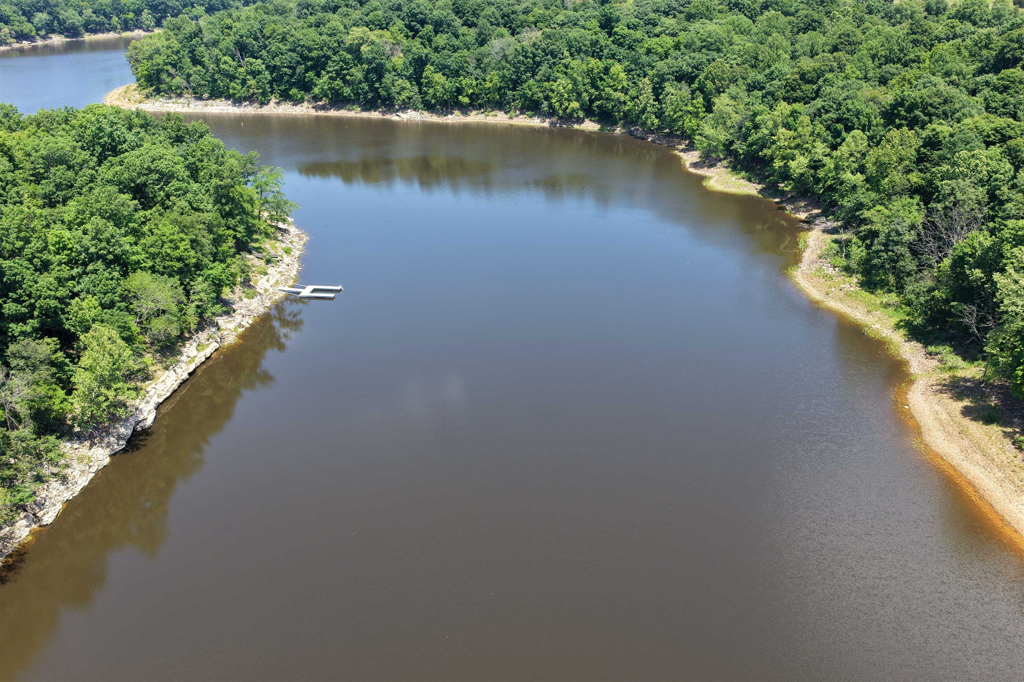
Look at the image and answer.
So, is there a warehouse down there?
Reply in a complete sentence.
No, there's no warehouse here.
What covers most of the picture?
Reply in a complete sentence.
What you mostly see from above here is water.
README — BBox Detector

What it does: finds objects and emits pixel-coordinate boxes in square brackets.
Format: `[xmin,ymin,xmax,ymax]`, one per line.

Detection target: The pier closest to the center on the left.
[299,284,340,299]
